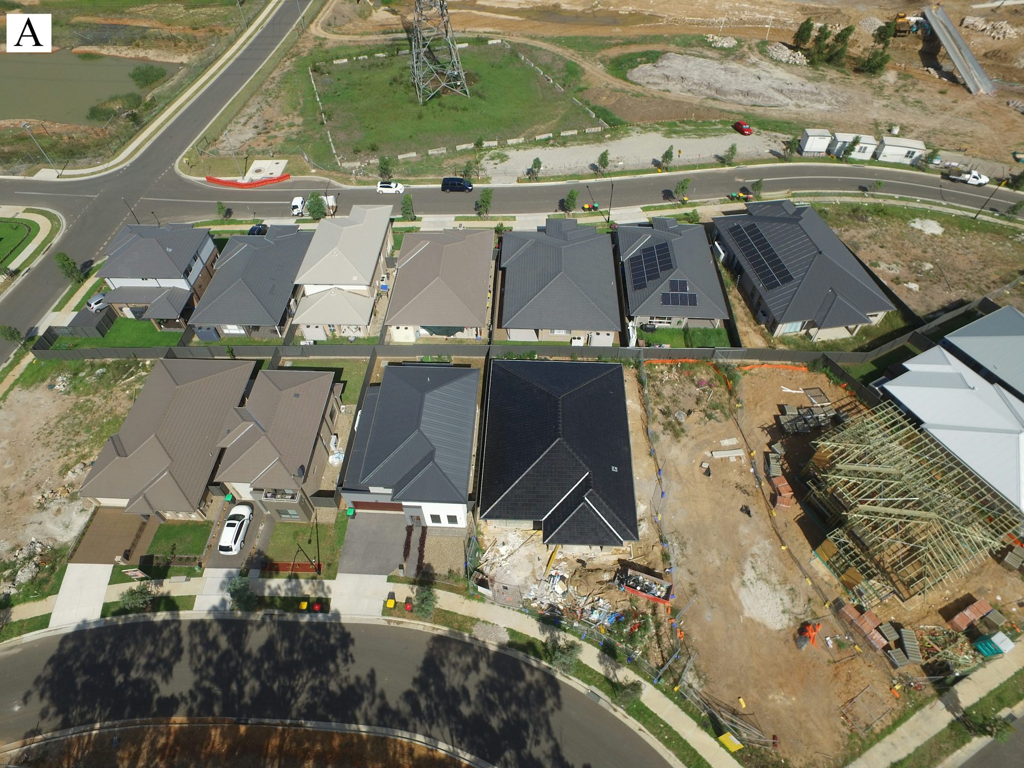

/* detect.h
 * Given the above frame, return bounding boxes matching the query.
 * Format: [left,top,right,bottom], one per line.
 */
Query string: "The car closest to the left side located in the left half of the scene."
[79,293,111,314]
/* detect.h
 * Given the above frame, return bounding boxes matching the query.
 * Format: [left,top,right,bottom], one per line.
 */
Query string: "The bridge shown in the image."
[924,0,1002,95]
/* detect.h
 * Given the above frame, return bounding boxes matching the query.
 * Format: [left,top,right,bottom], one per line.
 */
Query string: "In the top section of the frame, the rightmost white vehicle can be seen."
[954,171,991,189]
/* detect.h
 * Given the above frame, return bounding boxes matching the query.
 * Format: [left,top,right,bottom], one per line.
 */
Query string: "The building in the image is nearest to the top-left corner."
[94,223,219,320]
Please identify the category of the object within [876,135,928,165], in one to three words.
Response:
building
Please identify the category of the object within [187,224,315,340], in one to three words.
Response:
house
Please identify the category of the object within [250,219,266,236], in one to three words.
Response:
car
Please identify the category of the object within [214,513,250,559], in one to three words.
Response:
car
